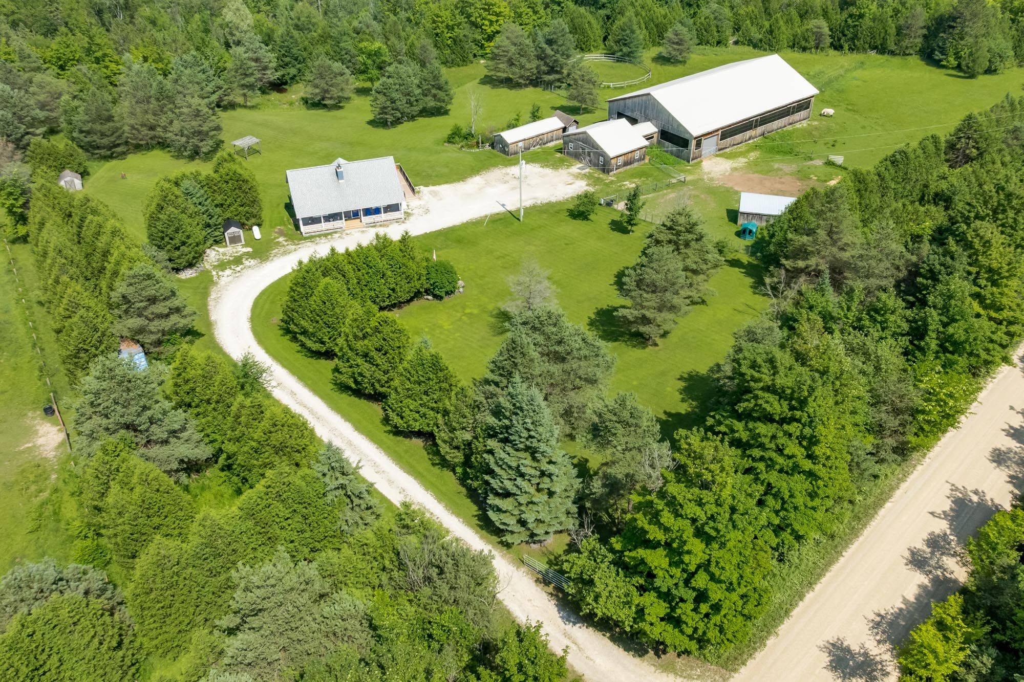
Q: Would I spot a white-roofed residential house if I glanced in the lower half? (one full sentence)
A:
No, in the lower half there is no white-roofed residential house.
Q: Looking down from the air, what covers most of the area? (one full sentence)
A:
Most of the picture is covered by trees.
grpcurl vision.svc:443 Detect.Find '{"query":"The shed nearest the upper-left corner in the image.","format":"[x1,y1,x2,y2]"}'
[52,167,84,193]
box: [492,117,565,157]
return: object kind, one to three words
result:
shed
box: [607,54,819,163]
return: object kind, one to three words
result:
barn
